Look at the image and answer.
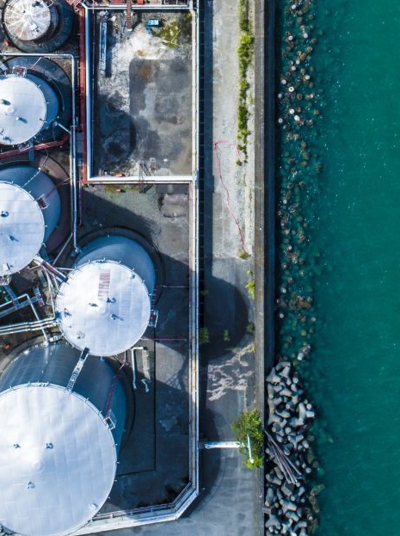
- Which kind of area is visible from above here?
industrial area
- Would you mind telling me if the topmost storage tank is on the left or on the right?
left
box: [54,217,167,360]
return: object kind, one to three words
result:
storage tank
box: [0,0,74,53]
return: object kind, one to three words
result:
storage tank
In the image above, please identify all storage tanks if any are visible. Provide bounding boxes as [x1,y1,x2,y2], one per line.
[0,55,79,156]
[0,149,78,289]
[54,217,167,360]
[0,0,74,53]
[0,329,139,536]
